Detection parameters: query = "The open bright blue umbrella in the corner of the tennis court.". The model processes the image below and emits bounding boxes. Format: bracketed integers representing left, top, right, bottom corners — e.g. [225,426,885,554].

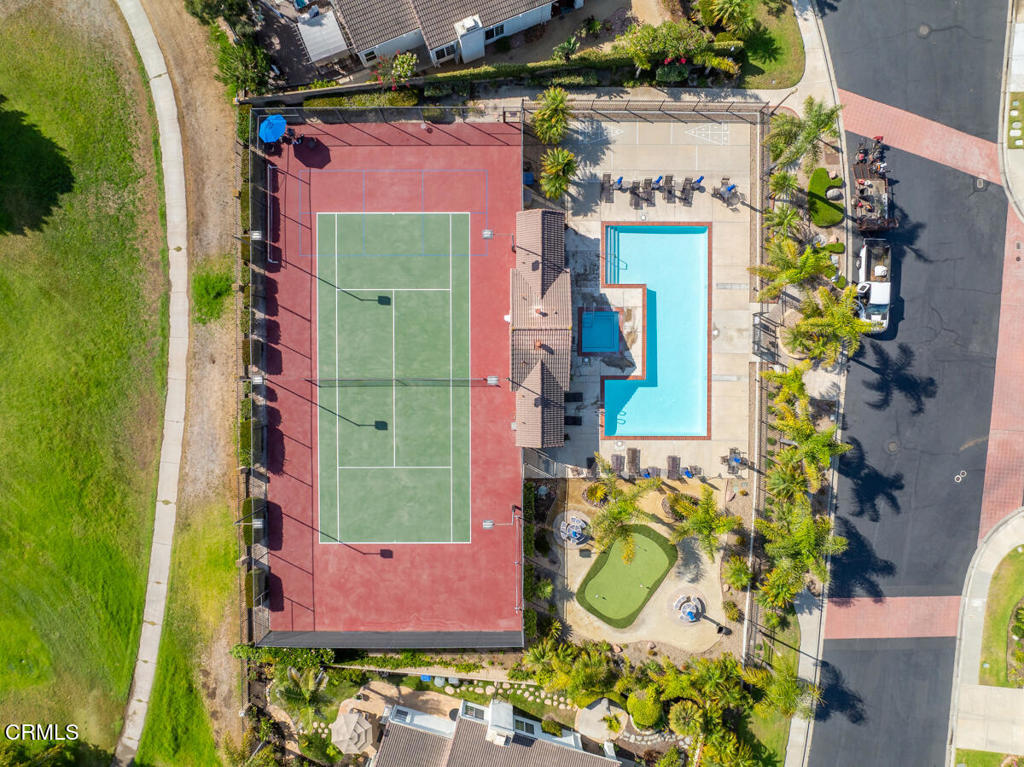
[259,115,288,145]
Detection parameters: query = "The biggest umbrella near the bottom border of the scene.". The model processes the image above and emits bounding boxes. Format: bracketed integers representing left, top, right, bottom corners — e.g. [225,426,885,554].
[332,707,376,752]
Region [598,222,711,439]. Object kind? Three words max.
swimming pool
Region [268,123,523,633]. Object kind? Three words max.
tennis court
